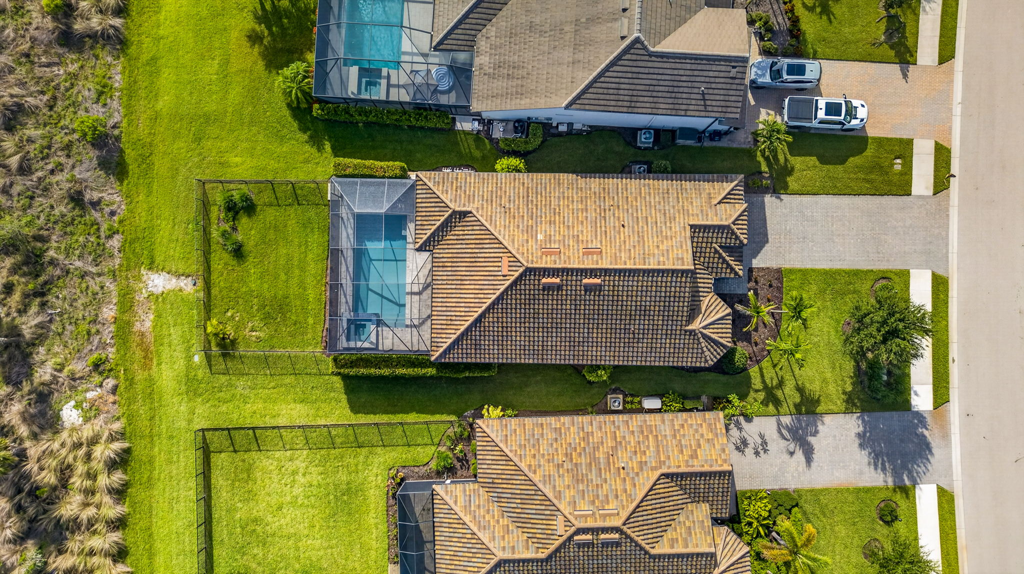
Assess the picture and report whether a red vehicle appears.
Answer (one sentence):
No, there appears to be no red vehicle in this shot.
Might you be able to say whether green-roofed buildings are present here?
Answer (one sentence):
No, no green-roofed building can be seen from above.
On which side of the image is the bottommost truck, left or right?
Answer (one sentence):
You can find the bottommost truck on the right side of the picture.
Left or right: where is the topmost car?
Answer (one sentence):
The topmost car sits on the right side.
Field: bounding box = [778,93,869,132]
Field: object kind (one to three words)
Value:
truck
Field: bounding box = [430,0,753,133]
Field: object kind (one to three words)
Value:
house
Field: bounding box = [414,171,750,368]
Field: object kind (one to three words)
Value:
house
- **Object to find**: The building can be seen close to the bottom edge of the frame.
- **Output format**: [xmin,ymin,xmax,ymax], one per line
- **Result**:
[431,411,753,574]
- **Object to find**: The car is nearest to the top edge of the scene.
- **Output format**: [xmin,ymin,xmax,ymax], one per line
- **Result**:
[749,55,821,92]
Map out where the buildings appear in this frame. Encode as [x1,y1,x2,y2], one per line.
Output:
[430,0,753,133]
[414,171,750,368]
[431,411,753,574]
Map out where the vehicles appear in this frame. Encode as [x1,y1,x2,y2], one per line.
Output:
[749,55,821,92]
[778,93,869,132]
